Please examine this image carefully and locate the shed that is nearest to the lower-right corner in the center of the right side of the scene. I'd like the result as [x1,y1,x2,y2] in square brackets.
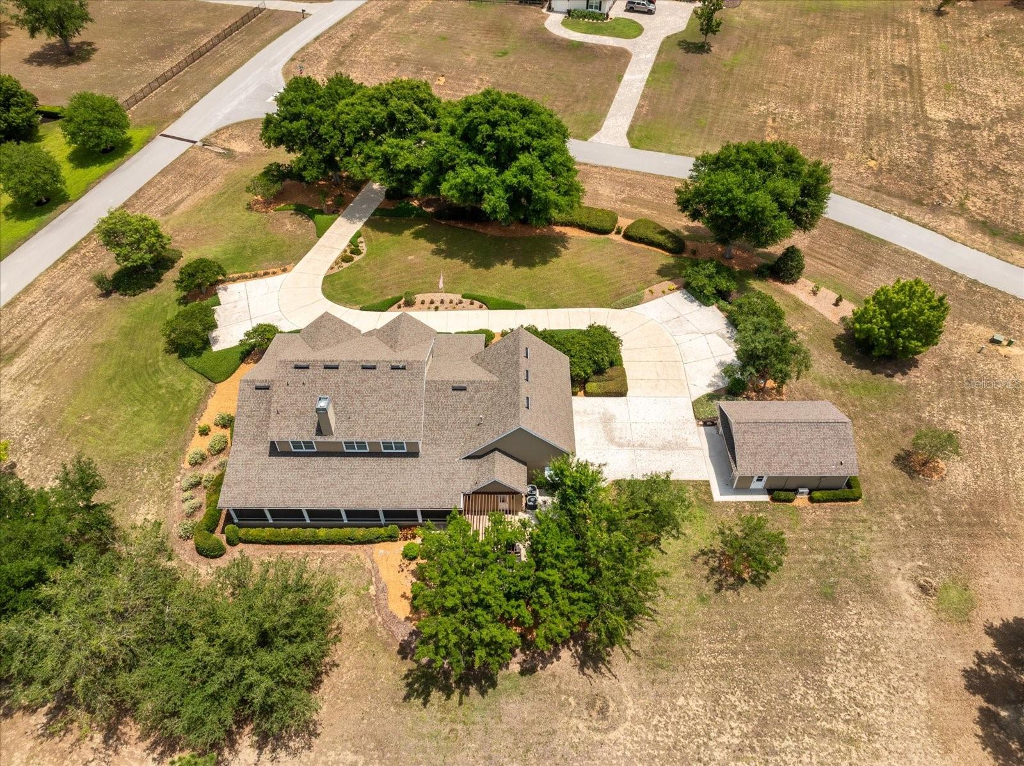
[712,399,858,491]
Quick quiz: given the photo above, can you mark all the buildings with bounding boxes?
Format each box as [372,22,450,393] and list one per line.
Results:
[549,0,607,16]
[712,399,858,491]
[217,311,576,529]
